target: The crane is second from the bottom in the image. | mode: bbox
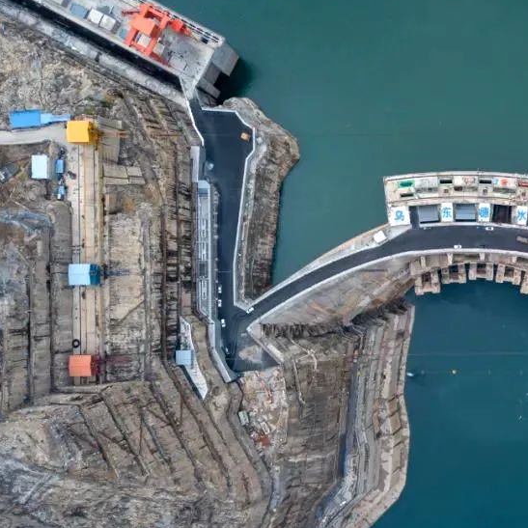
[67,263,143,286]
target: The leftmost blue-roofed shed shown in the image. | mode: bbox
[9,109,45,130]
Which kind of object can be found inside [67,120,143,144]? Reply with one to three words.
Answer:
crane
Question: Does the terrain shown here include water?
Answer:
Yes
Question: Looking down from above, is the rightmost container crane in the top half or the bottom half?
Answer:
top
